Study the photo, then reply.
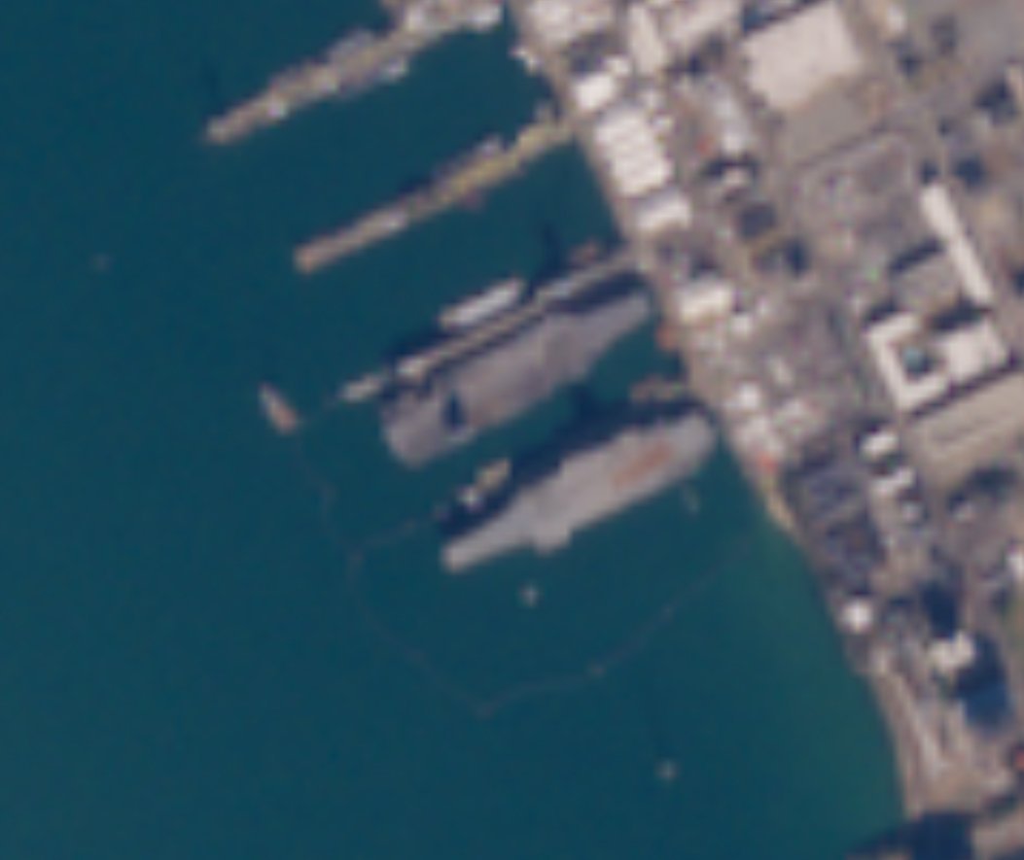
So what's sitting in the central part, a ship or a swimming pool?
ship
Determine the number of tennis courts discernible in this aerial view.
0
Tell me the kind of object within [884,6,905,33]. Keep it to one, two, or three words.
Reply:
house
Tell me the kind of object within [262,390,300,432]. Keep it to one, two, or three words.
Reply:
ship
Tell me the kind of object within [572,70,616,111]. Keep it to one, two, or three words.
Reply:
building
